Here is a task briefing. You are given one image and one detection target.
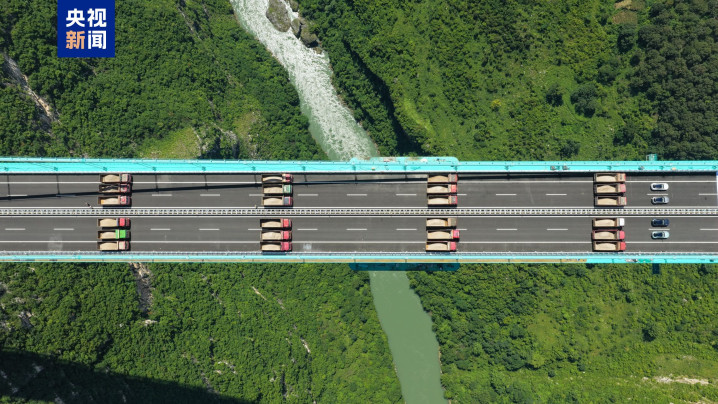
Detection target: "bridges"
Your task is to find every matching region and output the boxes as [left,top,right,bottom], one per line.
[0,154,718,271]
